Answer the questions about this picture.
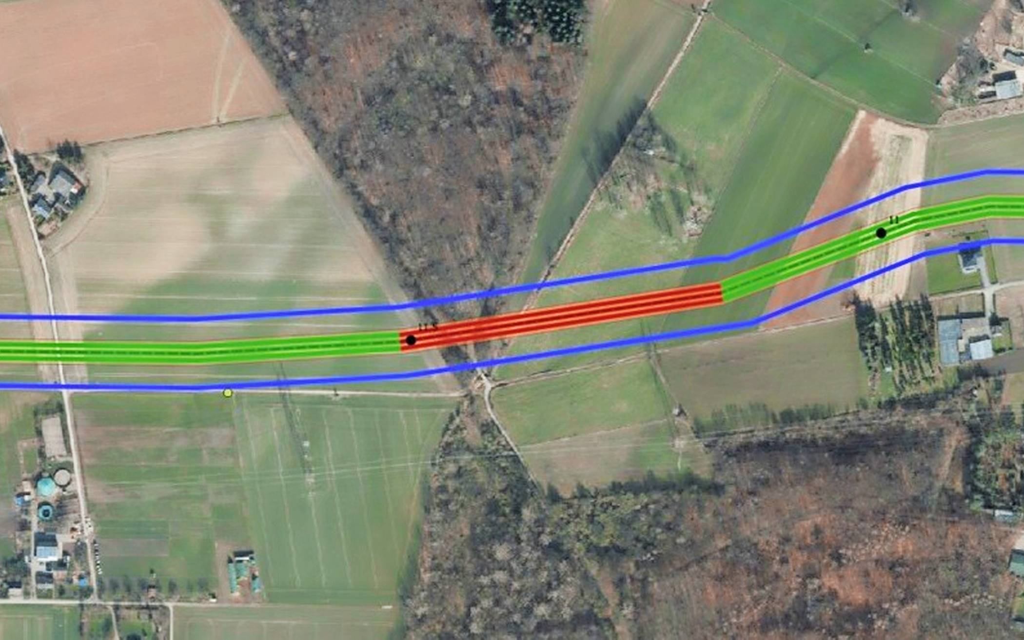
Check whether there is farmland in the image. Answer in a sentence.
Yes, farmland shows up in the scene.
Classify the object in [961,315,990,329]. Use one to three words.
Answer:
barn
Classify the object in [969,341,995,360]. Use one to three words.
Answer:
shed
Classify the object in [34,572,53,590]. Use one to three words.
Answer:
house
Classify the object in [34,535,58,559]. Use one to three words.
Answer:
barn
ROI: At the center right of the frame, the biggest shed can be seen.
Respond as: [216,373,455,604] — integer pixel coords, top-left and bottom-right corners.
[939,319,962,365]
